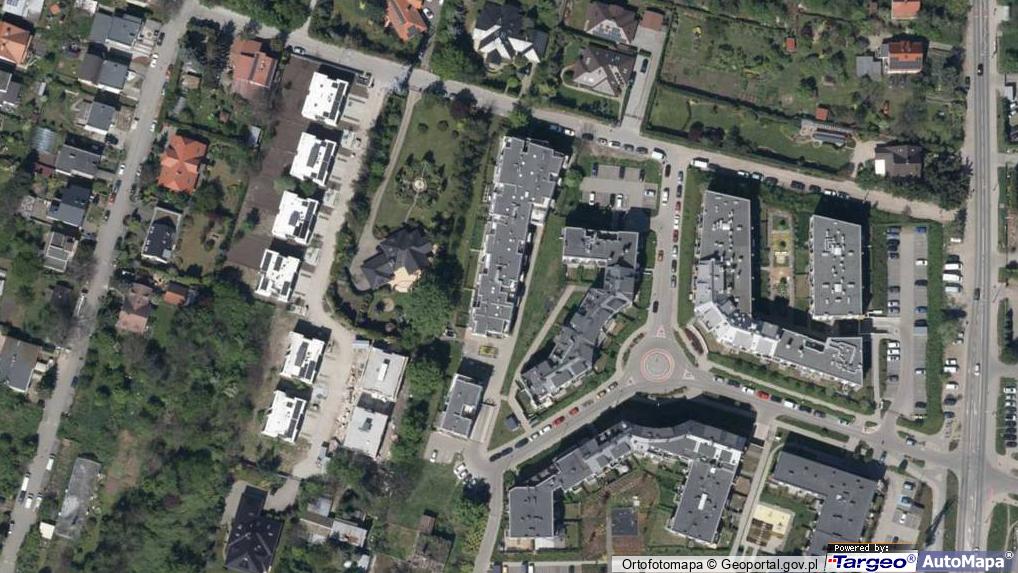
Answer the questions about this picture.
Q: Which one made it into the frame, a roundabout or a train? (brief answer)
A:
roundabout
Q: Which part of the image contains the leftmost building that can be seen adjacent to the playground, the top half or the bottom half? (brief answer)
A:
bottom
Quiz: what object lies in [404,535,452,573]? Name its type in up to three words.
house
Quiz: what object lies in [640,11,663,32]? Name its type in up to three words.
building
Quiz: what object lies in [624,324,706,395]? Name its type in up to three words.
roundabout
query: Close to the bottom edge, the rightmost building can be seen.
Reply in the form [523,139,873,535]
[765,452,877,573]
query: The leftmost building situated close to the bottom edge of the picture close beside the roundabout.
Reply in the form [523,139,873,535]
[506,420,746,550]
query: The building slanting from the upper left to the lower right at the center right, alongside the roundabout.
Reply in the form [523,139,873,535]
[689,191,862,393]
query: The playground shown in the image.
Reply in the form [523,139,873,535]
[745,500,797,550]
